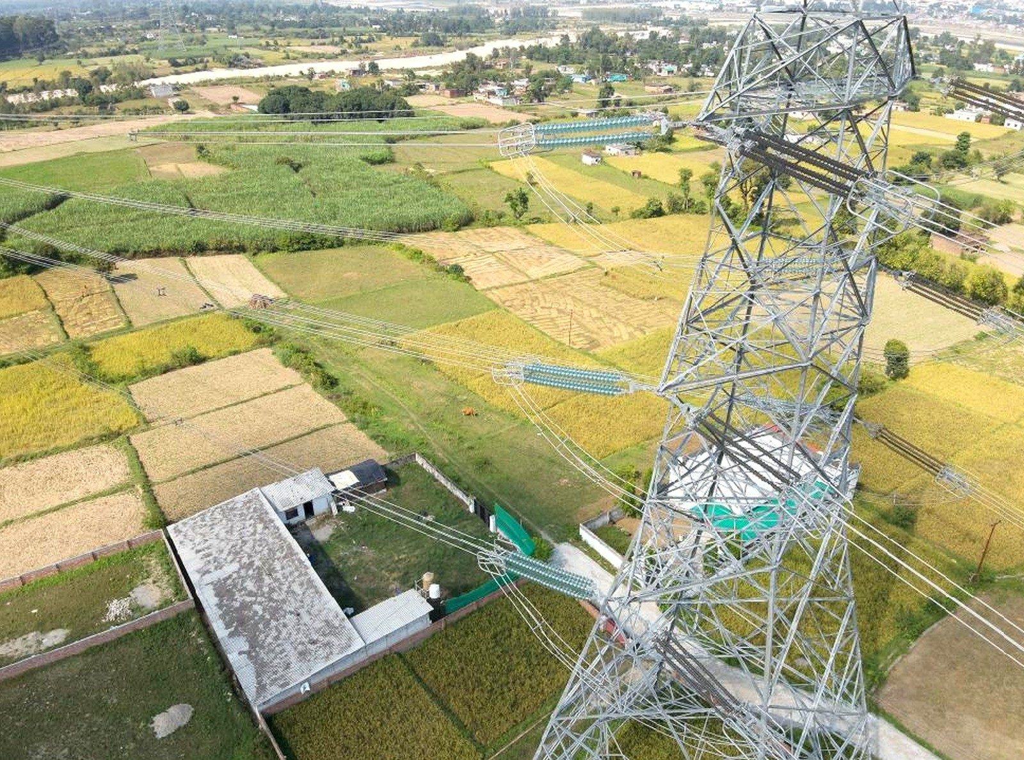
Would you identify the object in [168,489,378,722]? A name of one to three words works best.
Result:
shed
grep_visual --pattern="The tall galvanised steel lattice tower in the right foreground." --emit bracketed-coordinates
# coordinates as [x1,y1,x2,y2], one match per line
[532,0,929,760]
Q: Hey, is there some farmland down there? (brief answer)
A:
Yes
